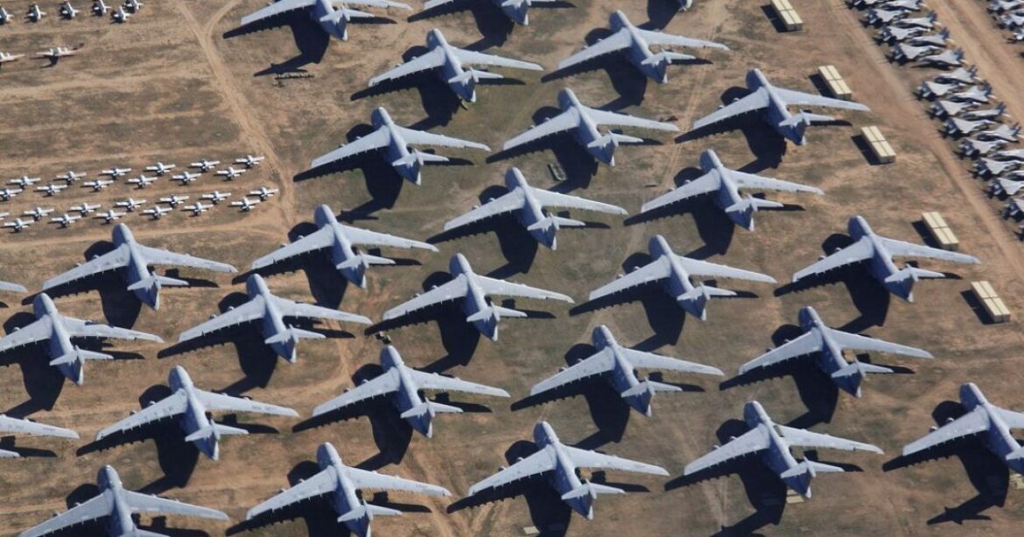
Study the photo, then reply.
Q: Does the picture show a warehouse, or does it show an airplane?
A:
airplane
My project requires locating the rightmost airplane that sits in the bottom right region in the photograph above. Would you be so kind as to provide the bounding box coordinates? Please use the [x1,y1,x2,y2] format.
[904,385,1024,476]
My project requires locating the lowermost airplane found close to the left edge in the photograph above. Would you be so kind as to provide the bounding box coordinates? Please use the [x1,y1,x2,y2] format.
[19,464,228,537]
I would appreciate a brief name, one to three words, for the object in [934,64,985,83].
airplane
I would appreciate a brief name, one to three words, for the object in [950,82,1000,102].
airplane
